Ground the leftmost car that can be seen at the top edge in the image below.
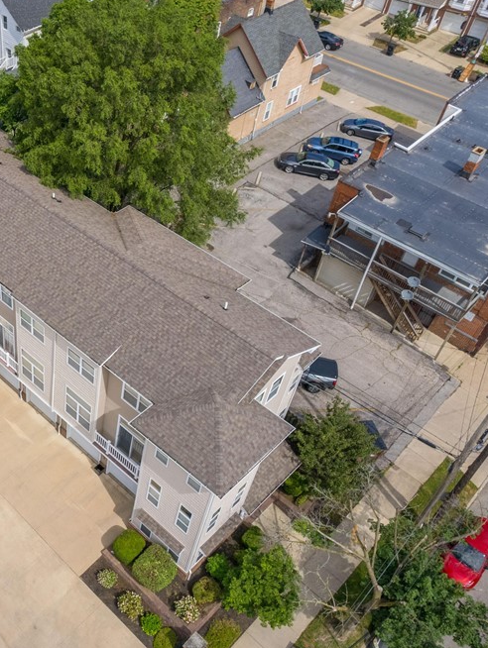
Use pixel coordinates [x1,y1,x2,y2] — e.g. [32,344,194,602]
[317,26,345,48]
